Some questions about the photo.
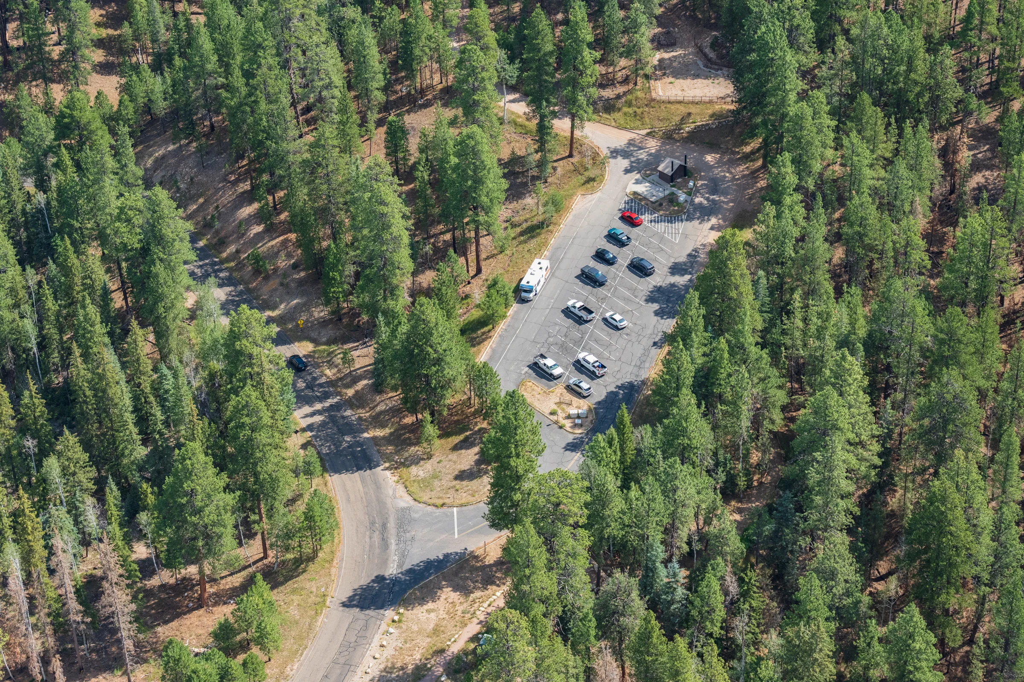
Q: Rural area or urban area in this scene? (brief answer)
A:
rural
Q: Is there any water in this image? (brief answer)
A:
No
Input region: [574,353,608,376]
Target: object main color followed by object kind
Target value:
white truck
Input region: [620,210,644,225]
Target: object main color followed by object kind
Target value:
red car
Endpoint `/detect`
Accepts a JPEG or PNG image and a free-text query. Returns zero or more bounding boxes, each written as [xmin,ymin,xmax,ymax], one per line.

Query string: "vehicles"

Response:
[534,354,565,379]
[629,257,654,274]
[564,299,596,321]
[594,246,619,264]
[574,353,608,376]
[580,264,609,286]
[566,378,594,397]
[620,210,644,225]
[605,226,632,244]
[603,311,628,329]
[521,260,548,298]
